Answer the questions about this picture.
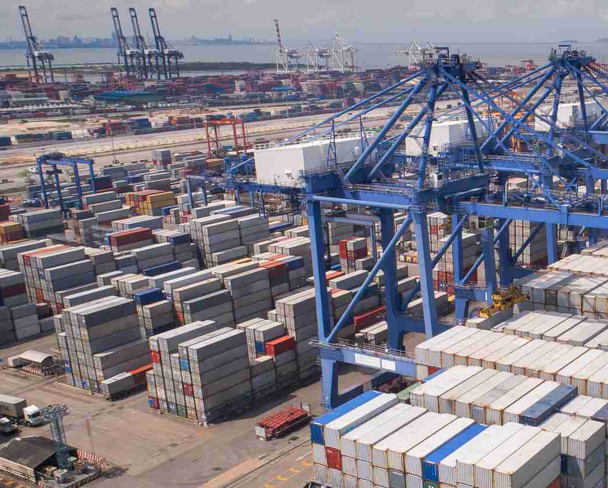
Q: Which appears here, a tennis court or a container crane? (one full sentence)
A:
The one in the frame is a container crane.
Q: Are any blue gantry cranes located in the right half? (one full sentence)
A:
Yes, a blue gantry crane appears in the right half.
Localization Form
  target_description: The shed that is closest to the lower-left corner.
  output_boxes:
[0,433,76,485]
